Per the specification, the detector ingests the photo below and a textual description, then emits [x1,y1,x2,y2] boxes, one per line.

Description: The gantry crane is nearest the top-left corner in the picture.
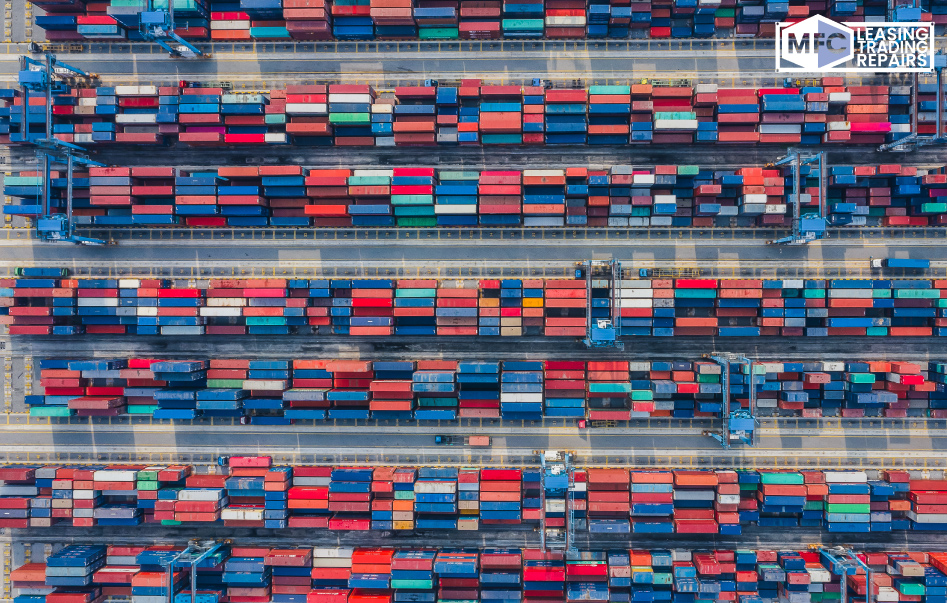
[19,55,96,156]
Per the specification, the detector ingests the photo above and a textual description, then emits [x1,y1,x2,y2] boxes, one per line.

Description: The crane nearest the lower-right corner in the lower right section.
[805,543,873,603]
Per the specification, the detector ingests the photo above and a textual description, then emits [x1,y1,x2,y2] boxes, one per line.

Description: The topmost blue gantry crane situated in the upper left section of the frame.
[144,0,210,59]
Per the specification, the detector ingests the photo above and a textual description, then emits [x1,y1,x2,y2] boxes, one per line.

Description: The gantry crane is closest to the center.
[571,257,621,348]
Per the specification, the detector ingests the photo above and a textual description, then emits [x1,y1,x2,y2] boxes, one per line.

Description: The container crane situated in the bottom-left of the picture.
[162,538,229,603]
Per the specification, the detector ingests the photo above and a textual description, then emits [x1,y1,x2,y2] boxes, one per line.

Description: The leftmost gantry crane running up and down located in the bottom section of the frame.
[529,449,575,553]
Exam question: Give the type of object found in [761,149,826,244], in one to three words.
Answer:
container crane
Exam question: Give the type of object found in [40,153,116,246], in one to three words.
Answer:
container crane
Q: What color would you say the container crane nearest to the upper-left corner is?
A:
blue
